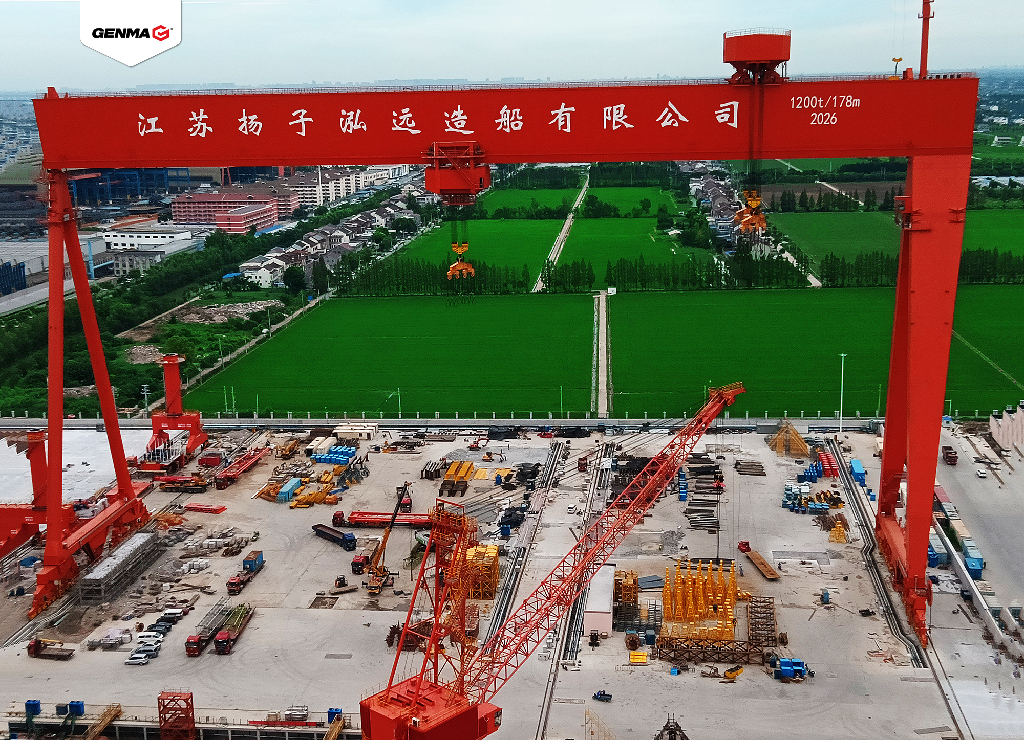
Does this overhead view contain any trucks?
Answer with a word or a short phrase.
Yes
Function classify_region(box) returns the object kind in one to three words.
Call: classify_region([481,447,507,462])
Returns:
work vehicle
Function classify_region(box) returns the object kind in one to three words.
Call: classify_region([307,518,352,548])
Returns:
truck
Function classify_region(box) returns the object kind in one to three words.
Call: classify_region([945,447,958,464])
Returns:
vehicle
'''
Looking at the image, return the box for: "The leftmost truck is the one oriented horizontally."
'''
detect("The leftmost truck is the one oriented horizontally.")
[25,633,76,659]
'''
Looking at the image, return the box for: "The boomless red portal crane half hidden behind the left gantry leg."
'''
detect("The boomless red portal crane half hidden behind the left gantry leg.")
[0,440,90,577]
